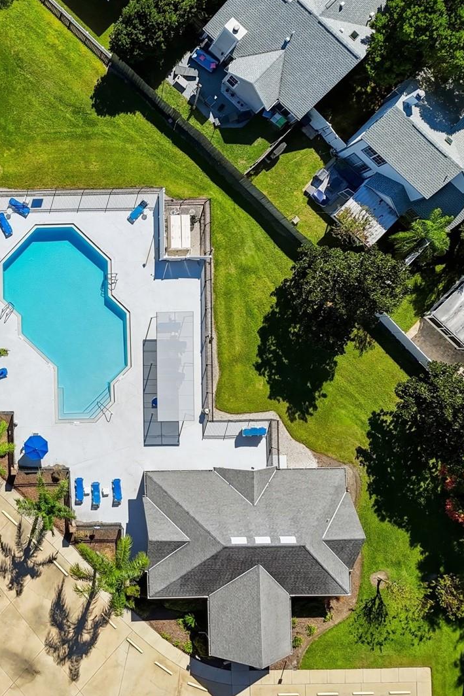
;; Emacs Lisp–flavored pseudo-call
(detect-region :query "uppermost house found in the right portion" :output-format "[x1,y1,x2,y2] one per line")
[197,0,406,124]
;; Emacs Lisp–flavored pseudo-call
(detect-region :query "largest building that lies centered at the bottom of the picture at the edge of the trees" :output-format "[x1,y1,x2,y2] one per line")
[143,465,366,668]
